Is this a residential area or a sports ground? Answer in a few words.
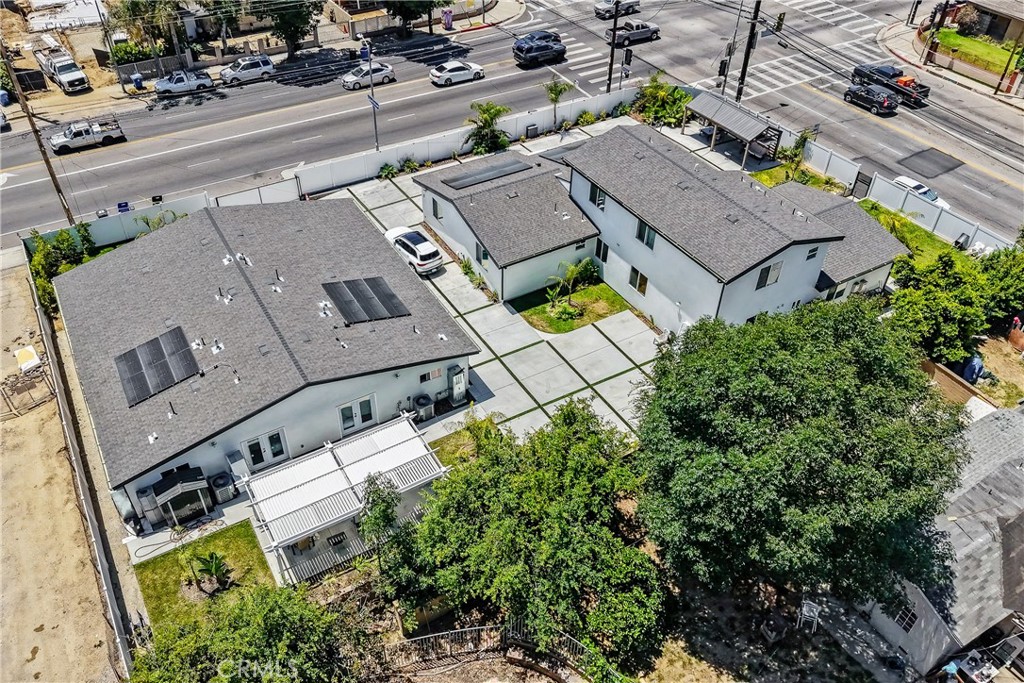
residential area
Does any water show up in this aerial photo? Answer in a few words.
No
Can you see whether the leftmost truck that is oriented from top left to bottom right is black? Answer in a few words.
No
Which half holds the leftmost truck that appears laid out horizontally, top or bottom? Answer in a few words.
top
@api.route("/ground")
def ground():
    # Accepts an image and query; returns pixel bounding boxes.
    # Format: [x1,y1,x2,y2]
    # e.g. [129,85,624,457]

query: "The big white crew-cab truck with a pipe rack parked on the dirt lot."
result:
[35,33,90,91]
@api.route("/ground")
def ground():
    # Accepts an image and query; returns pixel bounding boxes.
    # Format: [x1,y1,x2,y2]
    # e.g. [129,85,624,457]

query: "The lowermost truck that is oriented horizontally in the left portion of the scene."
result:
[42,110,125,151]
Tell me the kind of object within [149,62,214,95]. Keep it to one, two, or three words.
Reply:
truck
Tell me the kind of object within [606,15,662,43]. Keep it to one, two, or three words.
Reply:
truck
